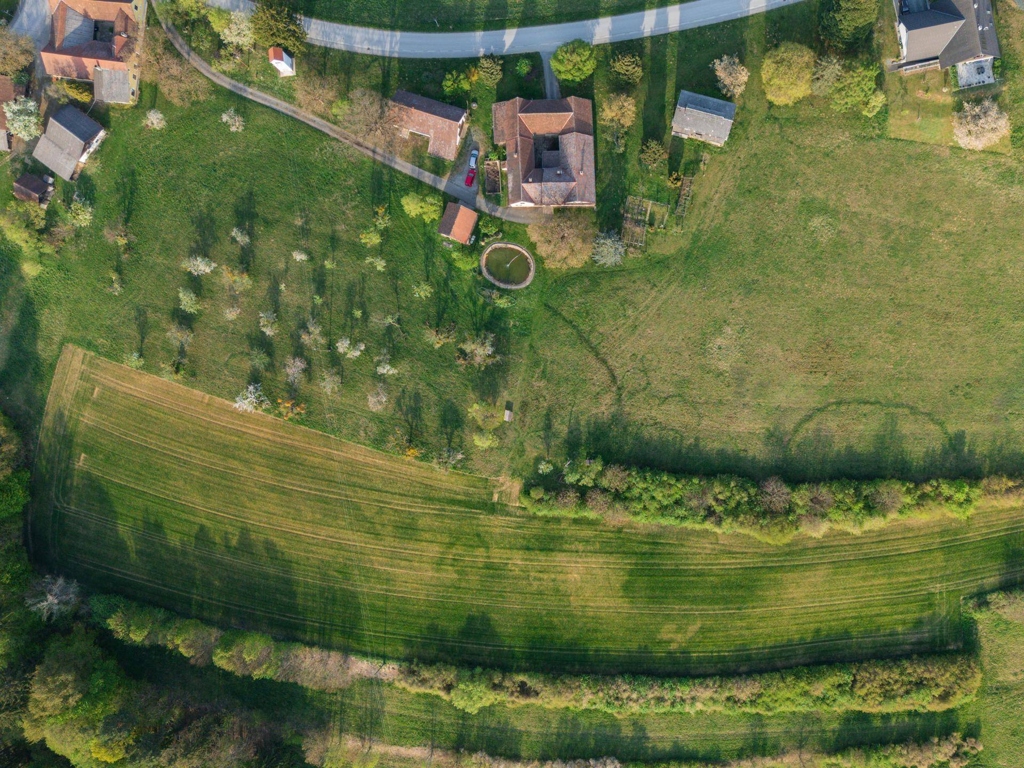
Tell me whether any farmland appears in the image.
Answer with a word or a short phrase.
Yes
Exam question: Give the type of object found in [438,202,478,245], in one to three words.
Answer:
building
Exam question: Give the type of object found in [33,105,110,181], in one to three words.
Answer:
barn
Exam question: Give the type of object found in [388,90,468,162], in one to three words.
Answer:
barn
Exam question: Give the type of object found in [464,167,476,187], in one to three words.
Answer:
vehicle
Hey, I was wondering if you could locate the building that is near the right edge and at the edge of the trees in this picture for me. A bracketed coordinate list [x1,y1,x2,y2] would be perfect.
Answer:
[887,0,1000,72]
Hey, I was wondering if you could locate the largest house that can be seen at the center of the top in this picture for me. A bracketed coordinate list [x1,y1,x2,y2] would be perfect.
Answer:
[492,96,595,208]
